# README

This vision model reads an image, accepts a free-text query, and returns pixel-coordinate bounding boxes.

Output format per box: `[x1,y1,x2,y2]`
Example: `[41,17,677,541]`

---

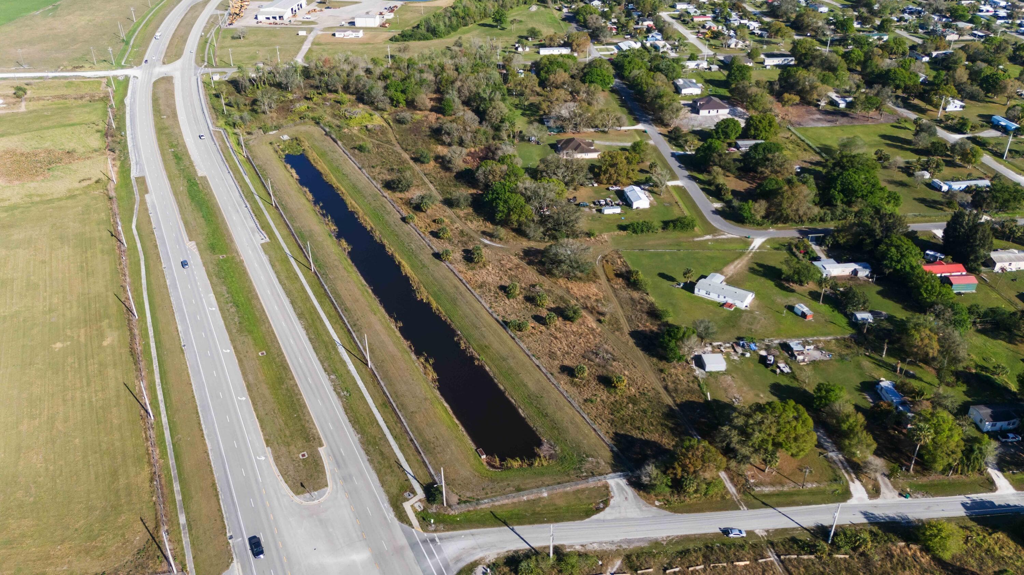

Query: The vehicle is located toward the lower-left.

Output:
[250,533,262,554]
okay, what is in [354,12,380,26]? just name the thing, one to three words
building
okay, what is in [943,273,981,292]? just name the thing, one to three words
shed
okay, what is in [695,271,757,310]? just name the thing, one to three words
house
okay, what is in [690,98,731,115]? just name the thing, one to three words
house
